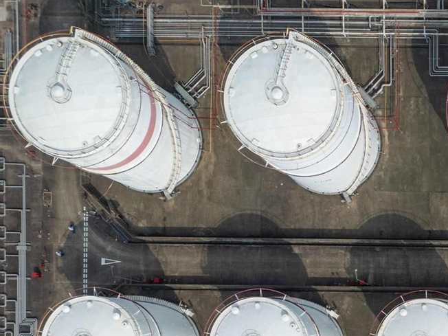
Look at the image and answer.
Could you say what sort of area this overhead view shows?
industrial area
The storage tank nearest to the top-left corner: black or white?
white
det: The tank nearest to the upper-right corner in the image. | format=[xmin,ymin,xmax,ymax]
[219,25,382,199]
